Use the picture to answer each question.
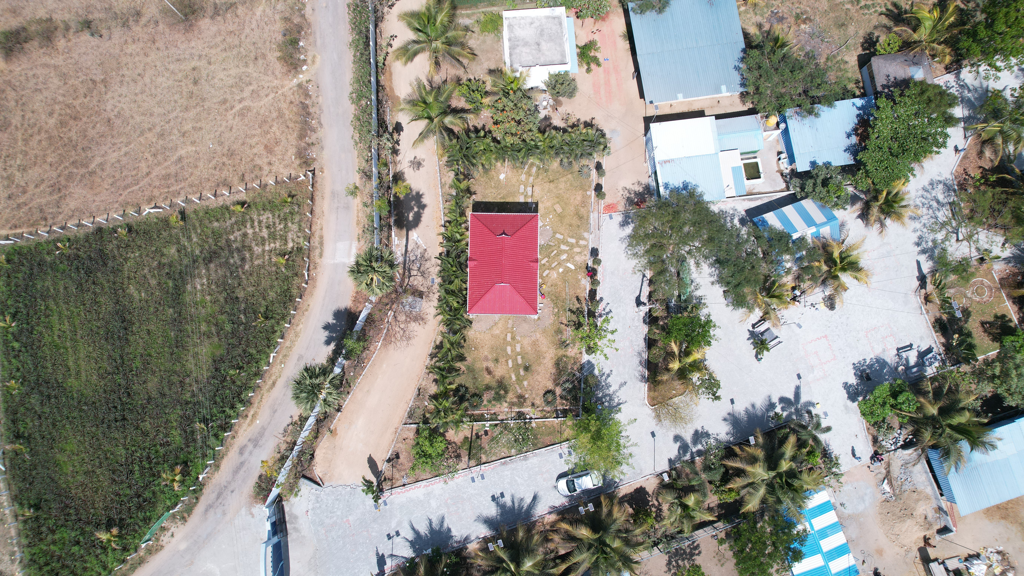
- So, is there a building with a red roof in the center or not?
Yes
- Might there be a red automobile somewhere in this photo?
No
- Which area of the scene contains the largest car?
bottom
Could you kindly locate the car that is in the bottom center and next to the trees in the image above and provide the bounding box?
[554,469,606,501]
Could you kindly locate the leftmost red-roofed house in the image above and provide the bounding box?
[467,212,545,315]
